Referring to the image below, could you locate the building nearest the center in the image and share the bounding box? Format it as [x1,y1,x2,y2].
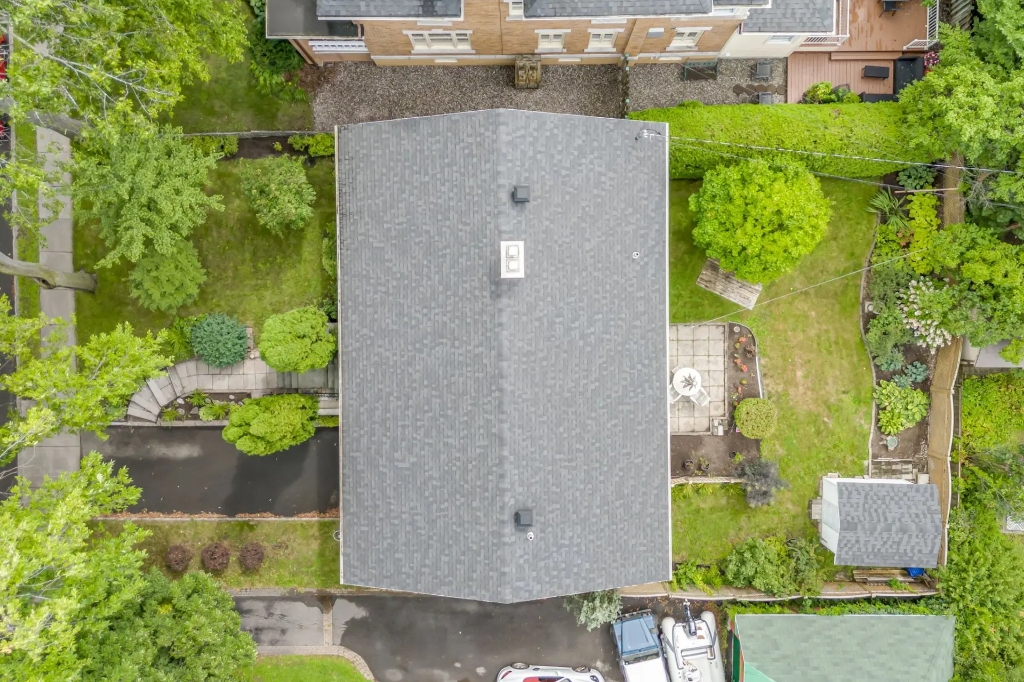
[335,106,674,602]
